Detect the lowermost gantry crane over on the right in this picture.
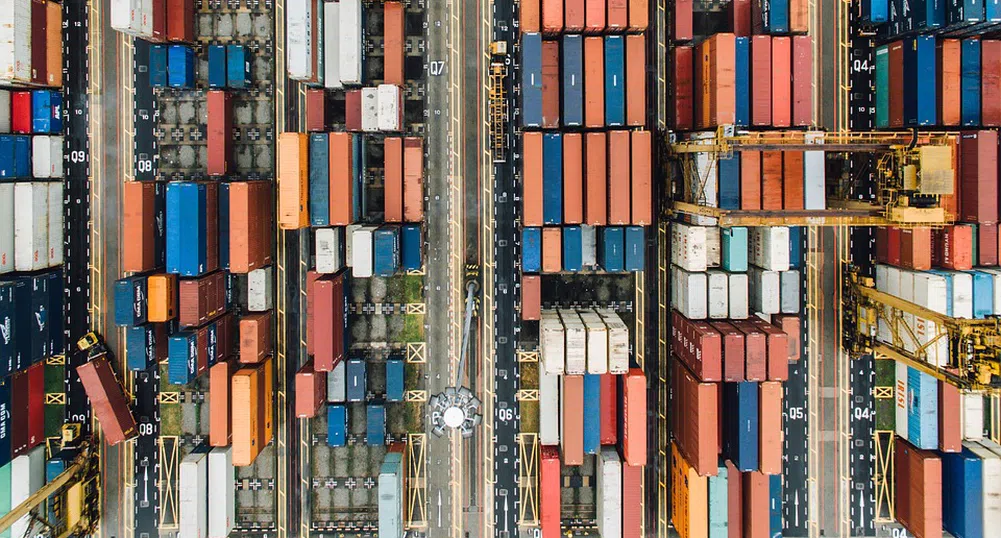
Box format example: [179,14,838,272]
[841,271,1001,403]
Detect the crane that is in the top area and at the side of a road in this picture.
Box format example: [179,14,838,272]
[651,125,955,224]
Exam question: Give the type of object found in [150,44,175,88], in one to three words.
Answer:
shipping container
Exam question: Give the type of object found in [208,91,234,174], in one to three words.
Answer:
shipping container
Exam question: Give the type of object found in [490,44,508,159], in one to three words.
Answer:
vehicle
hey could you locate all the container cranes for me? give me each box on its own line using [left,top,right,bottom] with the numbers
[841,271,1001,403]
[651,125,955,224]
[0,441,103,538]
